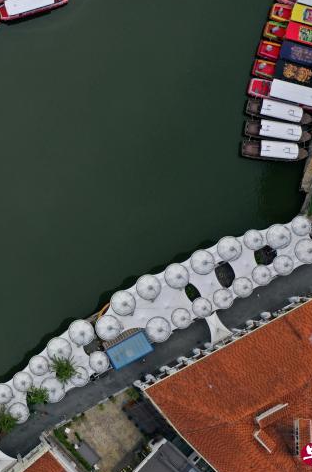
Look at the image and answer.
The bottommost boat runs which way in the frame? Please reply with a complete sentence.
The bottommost boat runs from side to side in the image.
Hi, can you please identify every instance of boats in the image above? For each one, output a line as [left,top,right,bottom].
[267,2,312,29]
[254,38,312,69]
[242,119,312,144]
[244,77,312,110]
[273,0,312,9]
[239,140,309,162]
[0,0,70,22]
[260,20,312,48]
[248,59,312,90]
[242,98,312,126]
